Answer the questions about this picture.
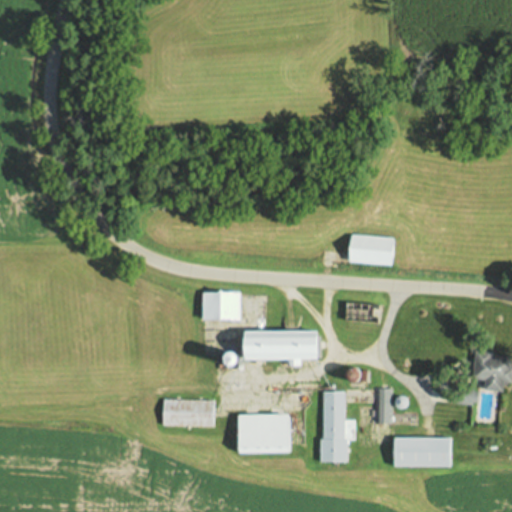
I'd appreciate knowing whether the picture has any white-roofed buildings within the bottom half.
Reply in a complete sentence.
Yes, a white-roofed building shows up within the bottom half.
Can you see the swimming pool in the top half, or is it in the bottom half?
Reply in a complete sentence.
The bottom half of the photo is where the swimming pool is.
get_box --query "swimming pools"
[476,388,498,424]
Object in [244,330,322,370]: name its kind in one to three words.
building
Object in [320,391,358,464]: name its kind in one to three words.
building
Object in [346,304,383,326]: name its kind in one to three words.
shed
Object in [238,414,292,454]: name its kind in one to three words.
shed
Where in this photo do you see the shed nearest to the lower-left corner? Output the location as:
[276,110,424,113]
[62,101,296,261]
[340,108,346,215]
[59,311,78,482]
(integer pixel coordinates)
[162,396,216,430]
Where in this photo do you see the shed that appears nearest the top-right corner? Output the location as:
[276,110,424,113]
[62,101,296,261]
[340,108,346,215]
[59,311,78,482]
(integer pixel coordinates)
[350,235,395,266]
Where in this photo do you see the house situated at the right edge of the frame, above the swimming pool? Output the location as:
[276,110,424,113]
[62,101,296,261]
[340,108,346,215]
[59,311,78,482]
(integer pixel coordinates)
[475,351,512,390]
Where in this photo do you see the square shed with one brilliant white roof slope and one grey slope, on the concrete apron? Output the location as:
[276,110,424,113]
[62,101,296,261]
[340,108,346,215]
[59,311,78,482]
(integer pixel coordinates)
[202,291,242,322]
